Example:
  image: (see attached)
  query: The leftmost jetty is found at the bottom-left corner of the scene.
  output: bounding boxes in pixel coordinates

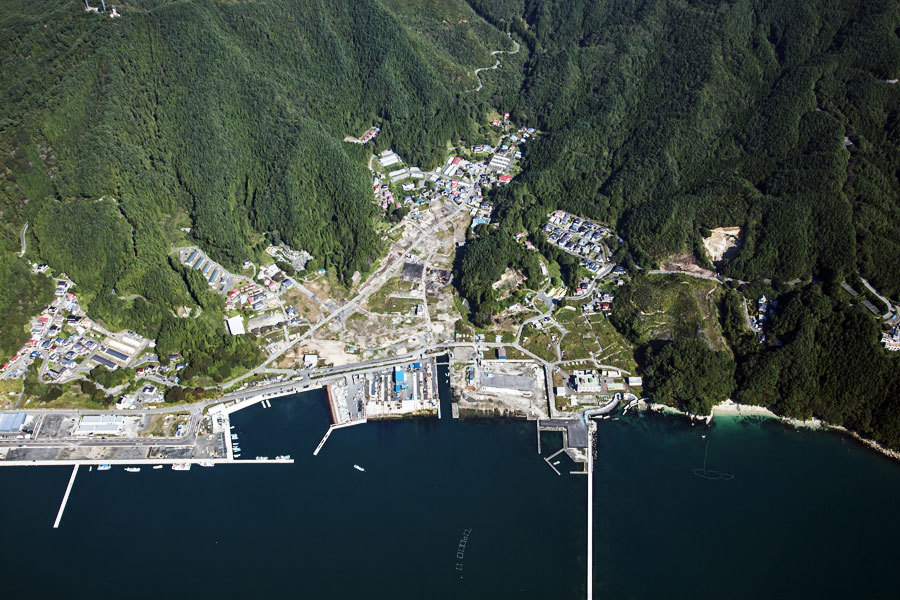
[54,464,78,529]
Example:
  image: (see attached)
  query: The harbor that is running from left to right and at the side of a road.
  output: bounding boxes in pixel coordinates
[0,383,438,465]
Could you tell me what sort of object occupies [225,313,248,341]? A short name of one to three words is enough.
building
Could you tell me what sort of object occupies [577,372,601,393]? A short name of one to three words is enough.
building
